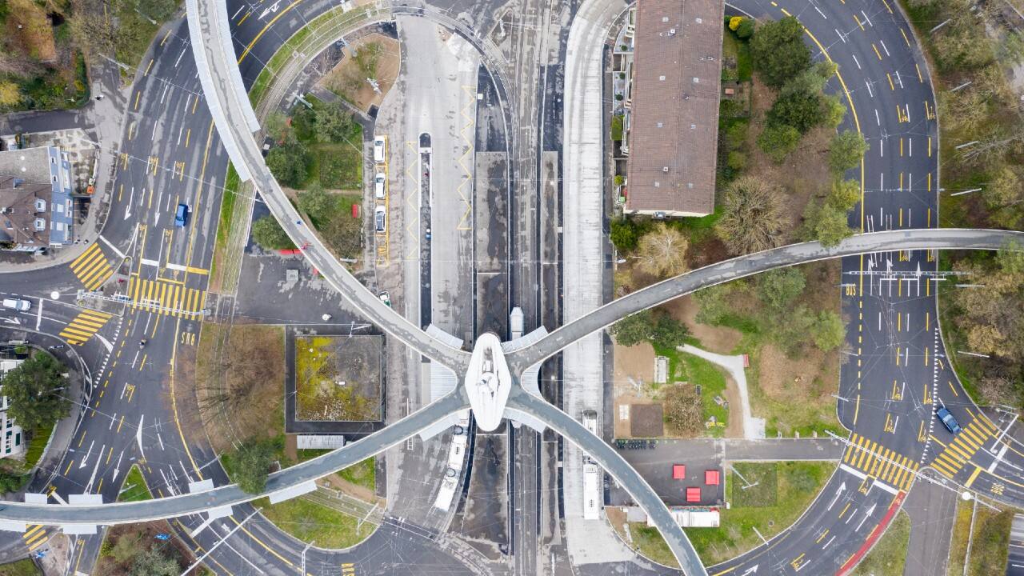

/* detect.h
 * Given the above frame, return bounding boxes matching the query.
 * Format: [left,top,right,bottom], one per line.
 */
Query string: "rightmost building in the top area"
[621,0,726,220]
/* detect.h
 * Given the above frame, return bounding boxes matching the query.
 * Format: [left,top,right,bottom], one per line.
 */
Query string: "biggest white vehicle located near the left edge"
[1,298,33,311]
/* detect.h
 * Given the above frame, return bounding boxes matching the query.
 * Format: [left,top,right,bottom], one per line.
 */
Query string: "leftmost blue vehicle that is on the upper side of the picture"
[175,203,189,226]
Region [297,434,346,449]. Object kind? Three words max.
shed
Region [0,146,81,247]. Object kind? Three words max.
house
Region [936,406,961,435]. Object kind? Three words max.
car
